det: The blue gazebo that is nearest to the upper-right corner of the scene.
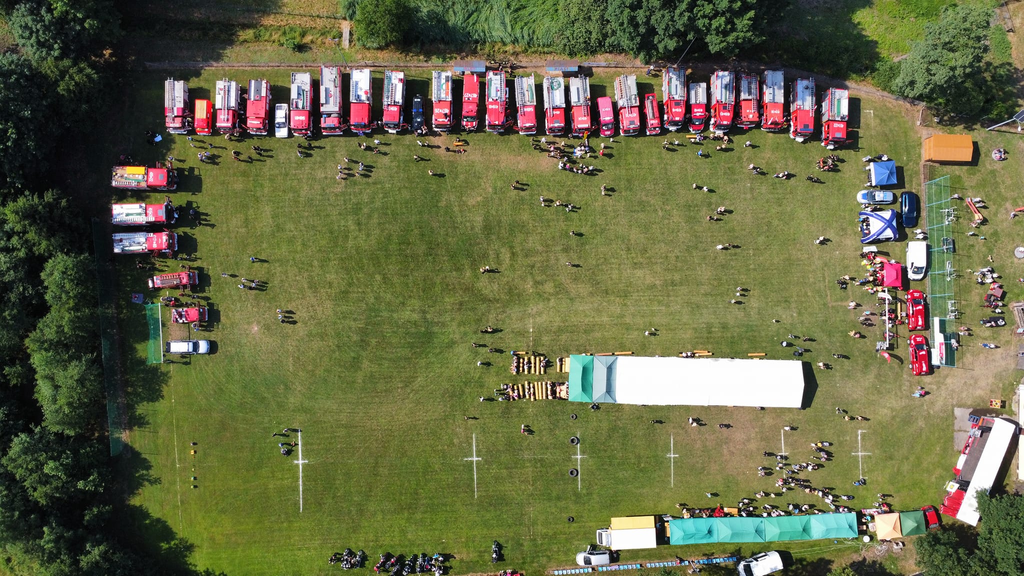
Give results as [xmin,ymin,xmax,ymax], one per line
[863,161,897,189]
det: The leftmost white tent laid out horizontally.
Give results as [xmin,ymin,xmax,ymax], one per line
[614,355,804,408]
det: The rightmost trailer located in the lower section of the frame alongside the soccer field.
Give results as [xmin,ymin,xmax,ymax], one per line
[933,414,1014,526]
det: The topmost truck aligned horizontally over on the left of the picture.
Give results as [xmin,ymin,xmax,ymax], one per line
[111,162,180,191]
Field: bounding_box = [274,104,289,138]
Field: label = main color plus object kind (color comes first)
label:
white car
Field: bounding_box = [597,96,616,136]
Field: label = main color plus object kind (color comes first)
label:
pink vehicle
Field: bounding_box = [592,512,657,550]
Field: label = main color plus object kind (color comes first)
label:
white truck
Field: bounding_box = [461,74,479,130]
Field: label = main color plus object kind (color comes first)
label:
red vehicle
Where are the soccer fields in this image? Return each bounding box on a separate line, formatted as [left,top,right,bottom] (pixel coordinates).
[150,106,895,559]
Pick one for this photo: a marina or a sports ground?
sports ground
